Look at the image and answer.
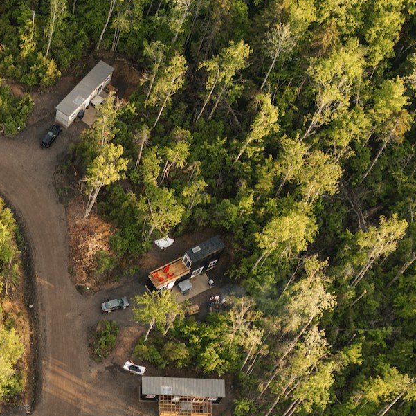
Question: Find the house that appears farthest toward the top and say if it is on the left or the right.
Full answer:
The house that appears farthest toward the top appears in the left half of the scene.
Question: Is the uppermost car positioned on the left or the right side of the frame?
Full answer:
The uppermost car appears in the left half of the scene.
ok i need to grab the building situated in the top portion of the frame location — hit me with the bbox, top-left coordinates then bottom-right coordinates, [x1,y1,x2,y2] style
[54,60,114,128]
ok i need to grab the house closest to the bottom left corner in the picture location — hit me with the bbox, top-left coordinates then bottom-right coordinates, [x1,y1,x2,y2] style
[139,377,225,406]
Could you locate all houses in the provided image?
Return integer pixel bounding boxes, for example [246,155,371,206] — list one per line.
[54,60,114,128]
[139,377,225,406]
[146,235,225,294]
